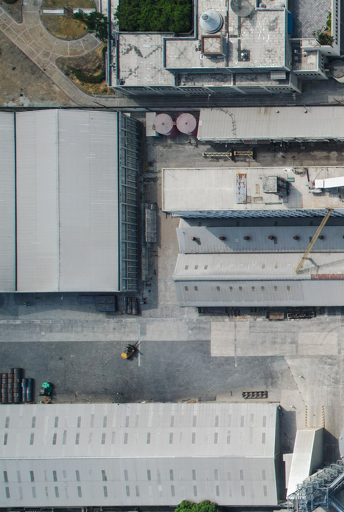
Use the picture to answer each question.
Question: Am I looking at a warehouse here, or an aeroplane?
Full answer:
It is a warehouse that can be seen here.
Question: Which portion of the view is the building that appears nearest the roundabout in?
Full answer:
The building that appears nearest the roundabout is in the top part of the image.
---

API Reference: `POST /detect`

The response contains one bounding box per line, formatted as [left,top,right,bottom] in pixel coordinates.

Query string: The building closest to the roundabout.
[99,0,303,95]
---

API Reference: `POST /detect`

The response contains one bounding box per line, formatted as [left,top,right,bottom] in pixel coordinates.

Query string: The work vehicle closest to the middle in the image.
[123,341,141,357]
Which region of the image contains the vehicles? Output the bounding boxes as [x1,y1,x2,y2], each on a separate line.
[41,382,53,397]
[123,341,141,357]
